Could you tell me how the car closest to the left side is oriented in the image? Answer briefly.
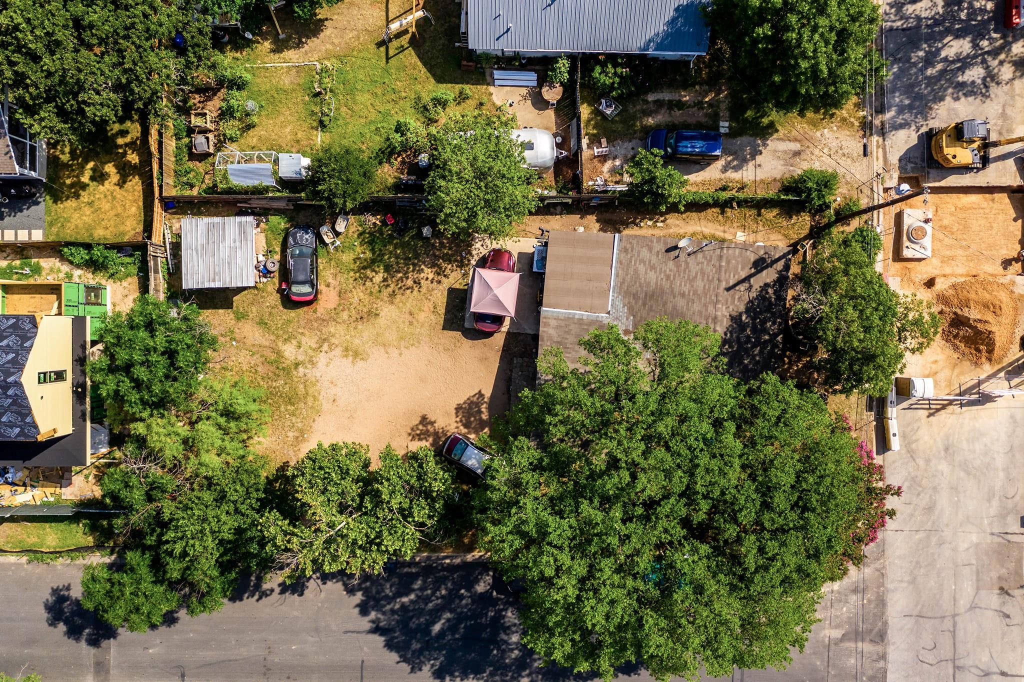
vertically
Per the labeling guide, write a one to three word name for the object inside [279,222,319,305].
car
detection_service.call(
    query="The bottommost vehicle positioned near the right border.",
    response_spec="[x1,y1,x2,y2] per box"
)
[923,116,1024,171]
